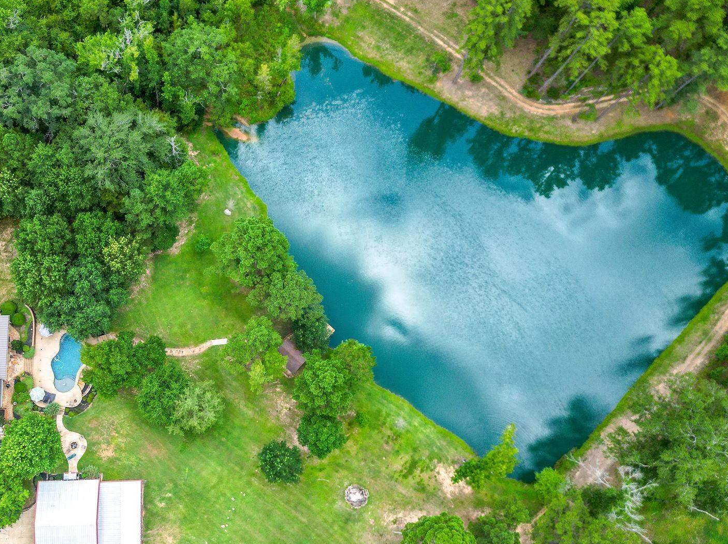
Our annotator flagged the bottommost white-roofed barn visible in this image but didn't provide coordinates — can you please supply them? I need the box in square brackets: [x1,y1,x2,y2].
[31,479,143,544]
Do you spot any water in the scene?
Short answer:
Yes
